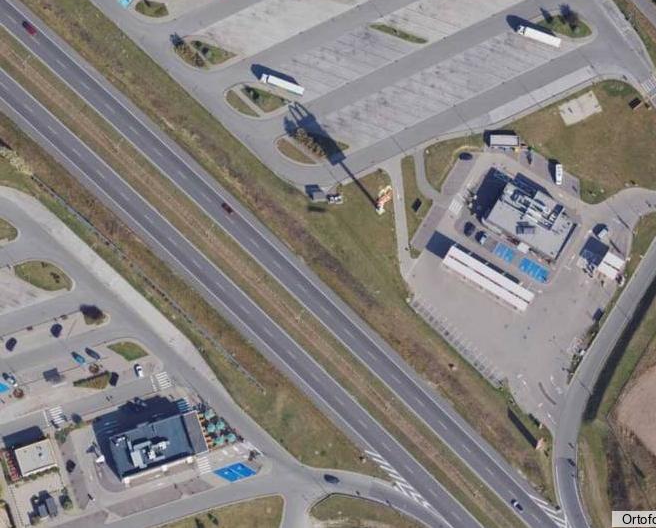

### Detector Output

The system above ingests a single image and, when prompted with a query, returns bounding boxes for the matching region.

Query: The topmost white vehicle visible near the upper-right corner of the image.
[518,29,562,48]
